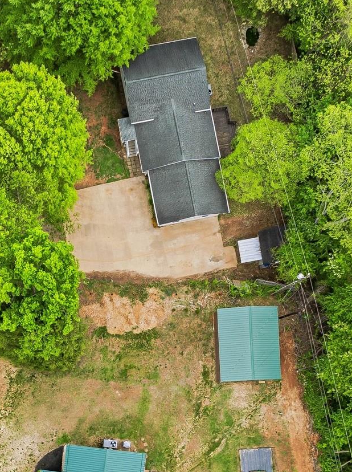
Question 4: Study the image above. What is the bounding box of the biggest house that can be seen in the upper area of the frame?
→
[114,36,230,230]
